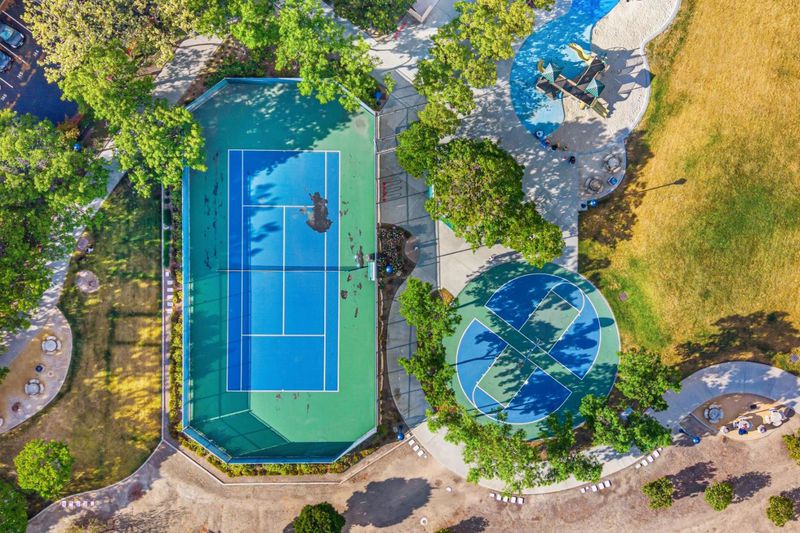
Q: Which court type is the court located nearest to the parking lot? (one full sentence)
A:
What you see as the court located nearest to the parking lot is a tennis court.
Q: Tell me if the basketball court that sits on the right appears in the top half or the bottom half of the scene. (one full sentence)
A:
The basketball court that sits on the right is in the bottom half of the image.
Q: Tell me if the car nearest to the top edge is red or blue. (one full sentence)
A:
The car nearest to the top edge looks blue in the image.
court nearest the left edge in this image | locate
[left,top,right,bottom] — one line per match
[189,83,376,457]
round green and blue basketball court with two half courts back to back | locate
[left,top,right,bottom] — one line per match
[443,259,622,442]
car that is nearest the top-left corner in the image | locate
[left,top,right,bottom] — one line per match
[0,14,24,46]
